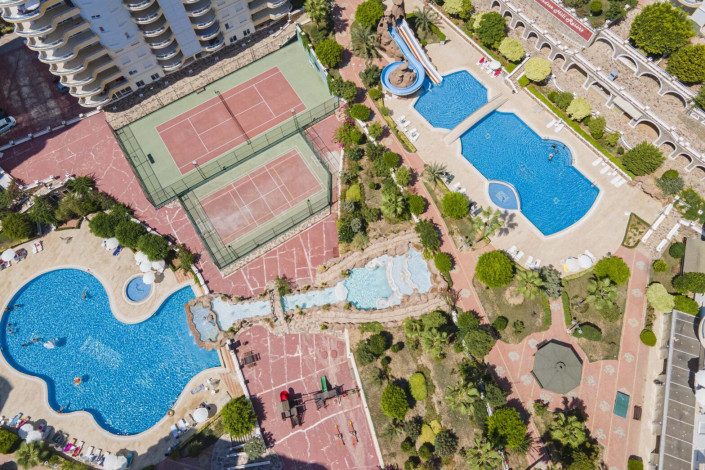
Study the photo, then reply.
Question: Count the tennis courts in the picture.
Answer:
two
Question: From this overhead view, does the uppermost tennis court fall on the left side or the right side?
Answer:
left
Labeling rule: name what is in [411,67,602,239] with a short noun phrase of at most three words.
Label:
swimming pool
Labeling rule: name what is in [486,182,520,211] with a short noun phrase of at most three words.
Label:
swimming pool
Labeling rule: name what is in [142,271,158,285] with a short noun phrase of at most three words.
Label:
umbrella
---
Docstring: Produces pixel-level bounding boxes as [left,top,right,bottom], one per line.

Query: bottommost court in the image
[180,132,330,266]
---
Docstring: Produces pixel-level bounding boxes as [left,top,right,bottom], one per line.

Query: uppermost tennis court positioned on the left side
[116,40,336,194]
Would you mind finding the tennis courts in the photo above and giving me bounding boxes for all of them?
[116,40,336,194]
[180,132,330,266]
